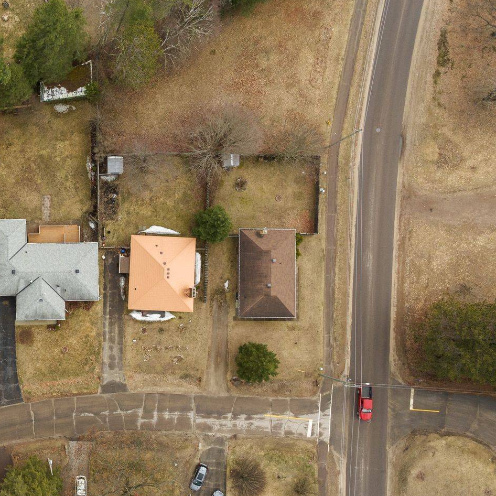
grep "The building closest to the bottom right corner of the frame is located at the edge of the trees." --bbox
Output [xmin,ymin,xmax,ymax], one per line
[237,229,297,318]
